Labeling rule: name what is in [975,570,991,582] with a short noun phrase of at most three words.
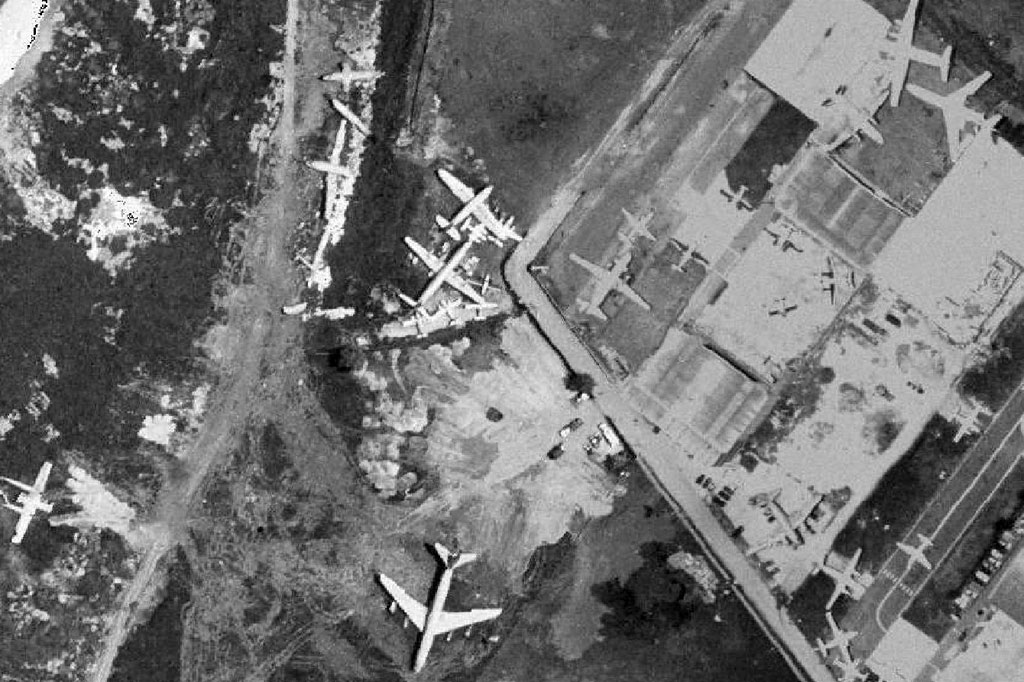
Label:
vehicle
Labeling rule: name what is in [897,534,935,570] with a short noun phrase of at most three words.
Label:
airplane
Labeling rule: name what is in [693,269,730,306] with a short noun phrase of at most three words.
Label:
shed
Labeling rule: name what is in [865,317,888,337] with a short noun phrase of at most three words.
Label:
vehicle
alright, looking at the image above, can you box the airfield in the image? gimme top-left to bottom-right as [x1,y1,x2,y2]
[665,0,1024,682]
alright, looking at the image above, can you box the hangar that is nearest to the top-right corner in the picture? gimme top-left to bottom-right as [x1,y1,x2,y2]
[780,150,910,272]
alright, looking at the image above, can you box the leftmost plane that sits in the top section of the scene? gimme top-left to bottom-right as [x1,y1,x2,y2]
[323,62,384,93]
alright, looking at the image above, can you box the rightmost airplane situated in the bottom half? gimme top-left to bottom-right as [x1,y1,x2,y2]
[950,397,994,442]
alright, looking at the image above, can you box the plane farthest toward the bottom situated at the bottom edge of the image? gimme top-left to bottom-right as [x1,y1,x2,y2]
[834,652,871,682]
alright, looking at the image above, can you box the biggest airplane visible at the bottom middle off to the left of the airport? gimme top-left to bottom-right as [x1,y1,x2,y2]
[380,543,502,672]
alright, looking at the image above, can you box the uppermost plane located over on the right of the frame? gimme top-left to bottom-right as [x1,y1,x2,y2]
[872,0,955,105]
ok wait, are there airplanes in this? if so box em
[768,297,798,318]
[828,89,891,151]
[764,222,804,254]
[748,487,826,556]
[897,534,935,570]
[872,0,955,105]
[815,612,859,665]
[815,257,857,305]
[398,236,486,307]
[380,543,502,672]
[671,237,711,275]
[834,652,871,682]
[12,461,54,542]
[570,251,651,321]
[815,548,870,611]
[950,397,994,442]
[908,72,1004,161]
[616,207,657,248]
[436,168,524,241]
[720,184,754,212]
[323,62,384,93]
